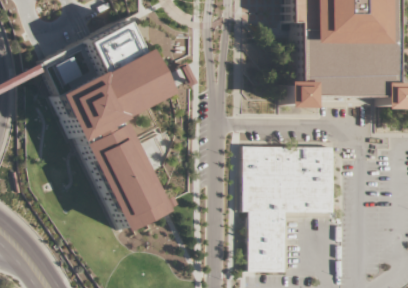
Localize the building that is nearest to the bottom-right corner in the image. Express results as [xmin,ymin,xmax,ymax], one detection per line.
[240,146,334,272]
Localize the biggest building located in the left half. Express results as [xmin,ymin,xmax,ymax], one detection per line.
[45,21,180,230]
